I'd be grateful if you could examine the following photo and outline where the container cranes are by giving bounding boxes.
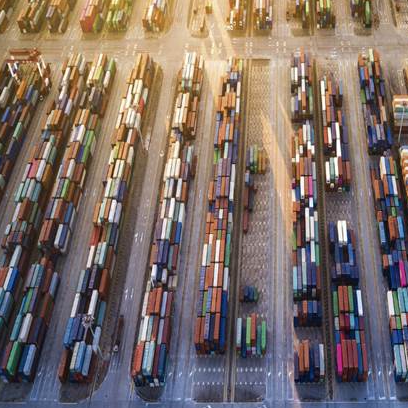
[3,50,53,94]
